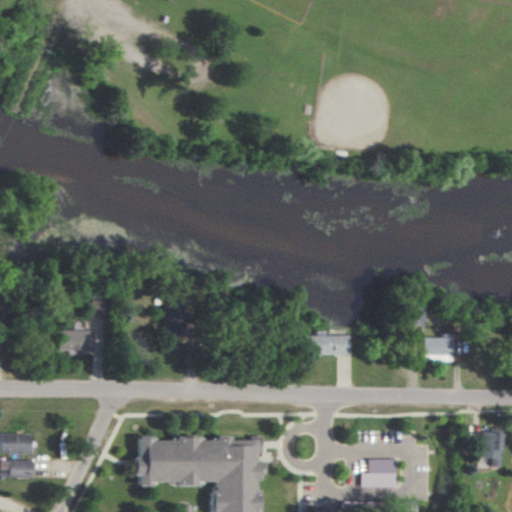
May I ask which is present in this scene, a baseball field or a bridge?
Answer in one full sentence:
Looking from above, you can make out a baseball field.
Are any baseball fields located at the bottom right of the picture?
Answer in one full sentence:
No, looking at the bottom right of the picture, there is no baseball field.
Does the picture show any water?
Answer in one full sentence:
Yes, water shows up in the scene.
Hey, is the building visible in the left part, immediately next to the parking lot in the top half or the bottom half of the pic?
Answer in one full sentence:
The bottom half of the photo is where the building visible in the left part, immediately next to the parking lot is.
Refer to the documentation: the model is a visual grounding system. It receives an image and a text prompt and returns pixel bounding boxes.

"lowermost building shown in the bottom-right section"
[360,460,398,488]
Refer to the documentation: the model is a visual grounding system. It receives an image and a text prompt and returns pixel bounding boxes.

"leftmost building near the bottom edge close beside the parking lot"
[136,436,266,512]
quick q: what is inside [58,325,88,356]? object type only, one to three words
house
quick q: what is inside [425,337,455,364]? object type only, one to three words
house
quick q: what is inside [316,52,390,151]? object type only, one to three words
baseball field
